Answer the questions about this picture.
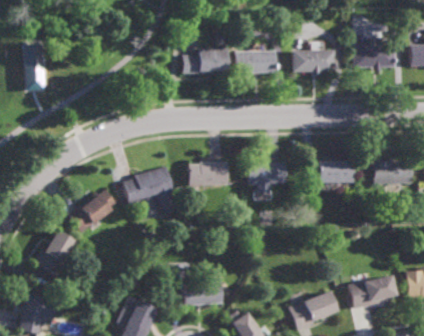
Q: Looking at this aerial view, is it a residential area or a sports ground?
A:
residential area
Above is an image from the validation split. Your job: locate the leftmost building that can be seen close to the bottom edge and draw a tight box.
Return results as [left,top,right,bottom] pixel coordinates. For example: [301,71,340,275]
[8,300,44,334]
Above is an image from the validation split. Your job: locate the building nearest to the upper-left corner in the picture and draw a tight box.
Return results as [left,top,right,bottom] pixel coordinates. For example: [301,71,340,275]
[23,44,47,91]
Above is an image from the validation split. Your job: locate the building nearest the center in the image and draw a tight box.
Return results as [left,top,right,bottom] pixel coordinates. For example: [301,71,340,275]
[189,162,229,189]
